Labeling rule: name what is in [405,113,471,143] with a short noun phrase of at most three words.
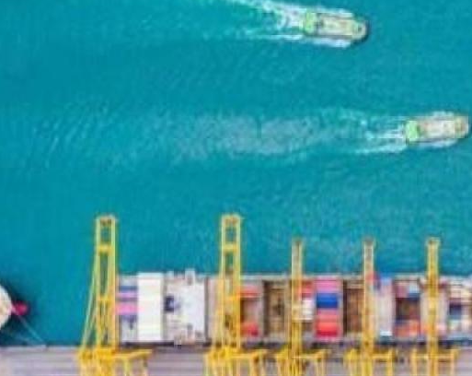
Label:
boat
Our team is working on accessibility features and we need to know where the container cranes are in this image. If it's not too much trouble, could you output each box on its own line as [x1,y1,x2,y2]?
[206,216,271,376]
[275,239,329,376]
[348,239,396,376]
[409,239,457,376]
[78,216,155,376]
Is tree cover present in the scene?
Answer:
No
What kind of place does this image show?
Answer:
port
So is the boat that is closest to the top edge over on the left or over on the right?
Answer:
right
